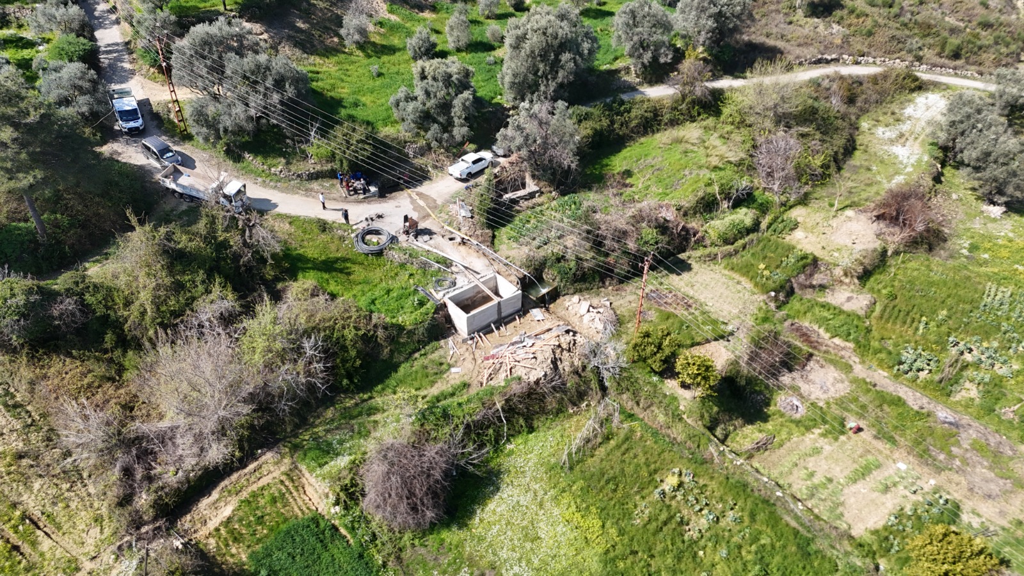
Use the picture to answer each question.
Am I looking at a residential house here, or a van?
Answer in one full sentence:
Of the two, only a van appears.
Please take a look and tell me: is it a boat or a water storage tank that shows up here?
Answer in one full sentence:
The image shows a water storage tank.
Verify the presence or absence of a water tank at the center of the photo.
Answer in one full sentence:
Yes, a water tank shows up at the center of the photo.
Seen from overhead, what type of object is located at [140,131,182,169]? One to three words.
van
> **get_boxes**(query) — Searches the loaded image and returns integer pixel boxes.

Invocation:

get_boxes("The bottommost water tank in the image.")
[447,273,522,343]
